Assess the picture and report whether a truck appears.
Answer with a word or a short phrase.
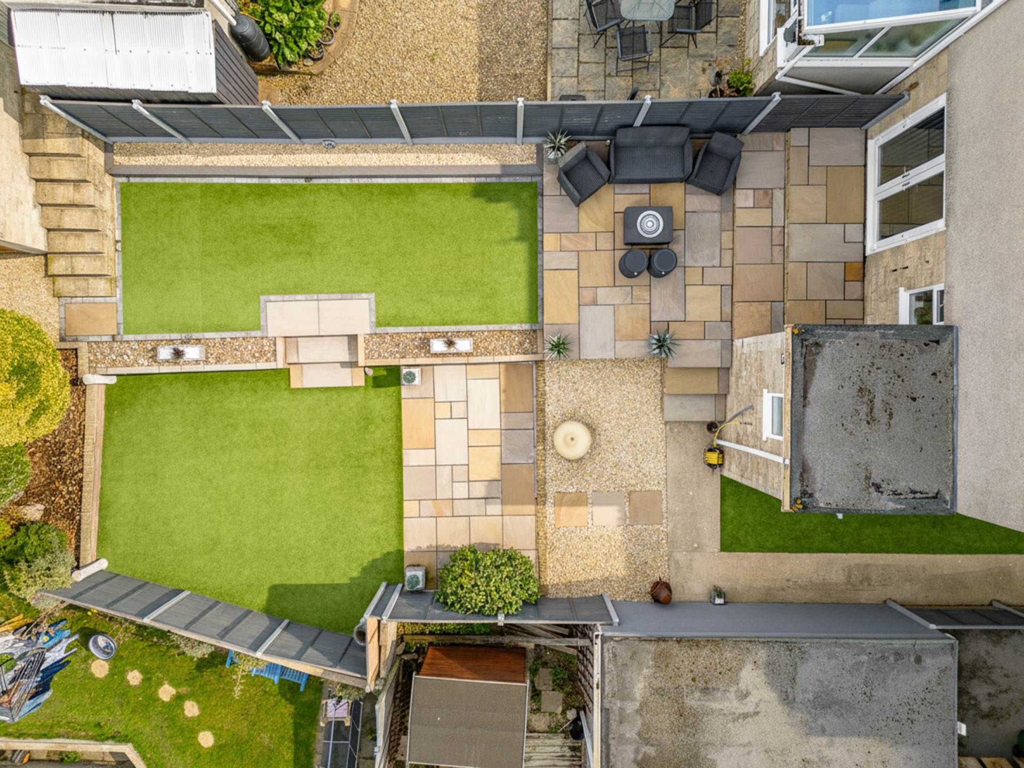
No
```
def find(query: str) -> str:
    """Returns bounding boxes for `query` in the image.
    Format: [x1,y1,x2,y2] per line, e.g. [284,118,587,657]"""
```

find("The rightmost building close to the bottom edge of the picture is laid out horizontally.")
[589,599,958,768]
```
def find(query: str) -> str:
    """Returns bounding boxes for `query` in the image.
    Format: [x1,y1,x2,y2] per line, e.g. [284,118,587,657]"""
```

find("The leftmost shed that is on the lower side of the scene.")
[407,646,528,768]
